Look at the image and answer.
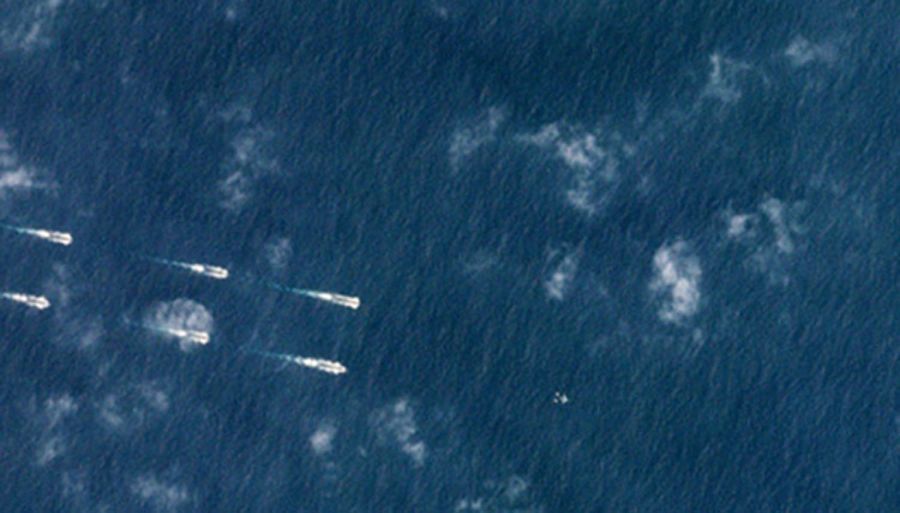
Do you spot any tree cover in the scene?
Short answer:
No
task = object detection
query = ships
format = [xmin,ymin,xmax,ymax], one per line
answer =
[13,295,47,306]
[171,330,207,340]
[36,230,69,241]
[306,360,344,372]
[192,265,226,275]
[318,293,357,304]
